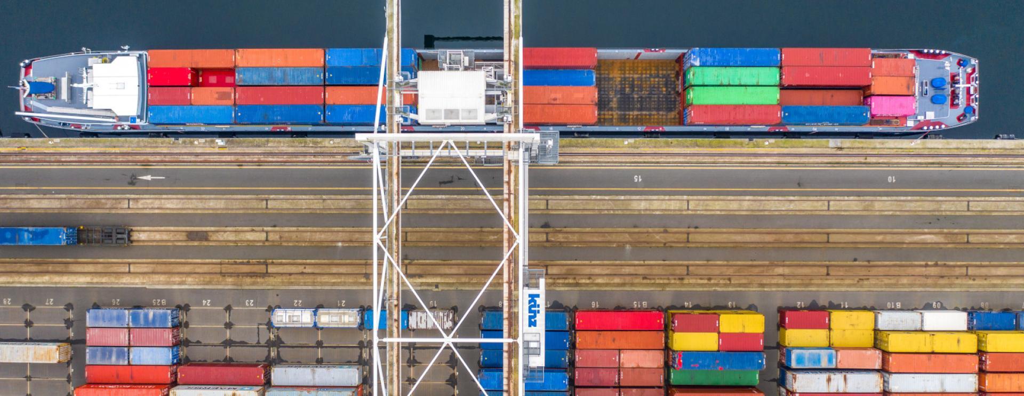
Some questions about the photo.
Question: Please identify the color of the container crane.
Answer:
white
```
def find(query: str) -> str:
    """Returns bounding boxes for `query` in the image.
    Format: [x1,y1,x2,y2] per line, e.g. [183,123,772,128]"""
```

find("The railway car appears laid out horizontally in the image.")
[73,228,134,246]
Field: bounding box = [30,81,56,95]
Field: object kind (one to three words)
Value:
boat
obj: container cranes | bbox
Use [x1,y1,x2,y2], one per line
[356,0,560,396]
